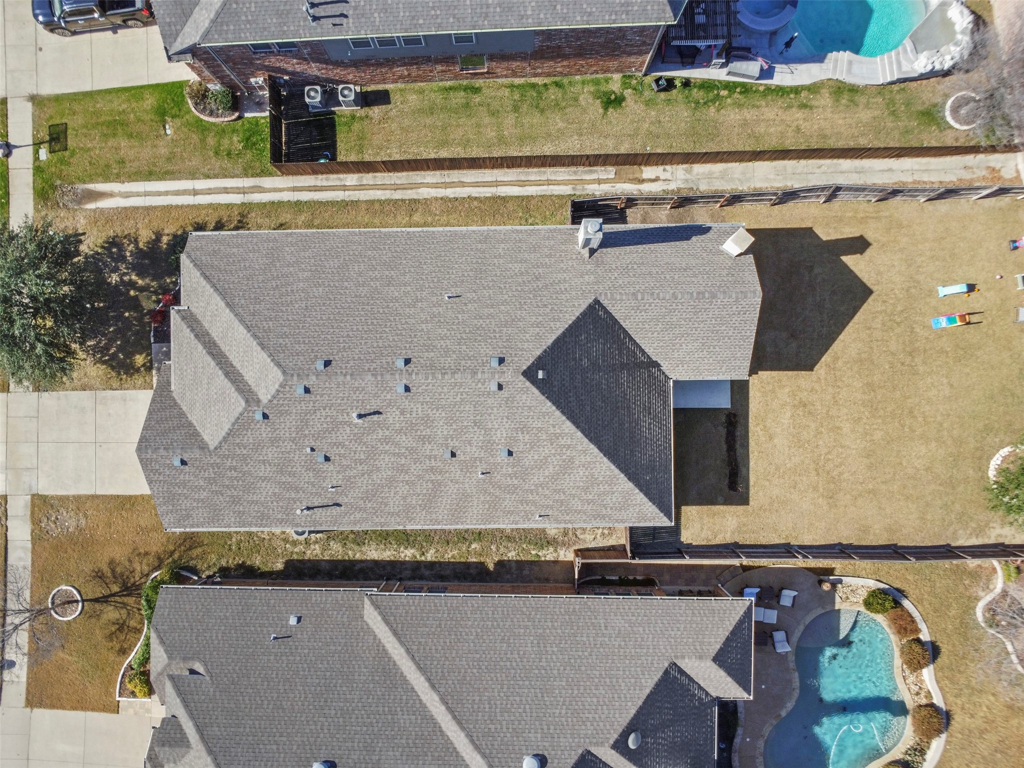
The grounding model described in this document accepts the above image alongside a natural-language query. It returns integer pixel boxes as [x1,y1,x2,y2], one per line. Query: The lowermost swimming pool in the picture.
[759,601,916,768]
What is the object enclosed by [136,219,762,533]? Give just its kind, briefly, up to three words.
house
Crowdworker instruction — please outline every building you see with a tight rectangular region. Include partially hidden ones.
[143,575,755,768]
[151,0,689,97]
[136,219,762,533]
